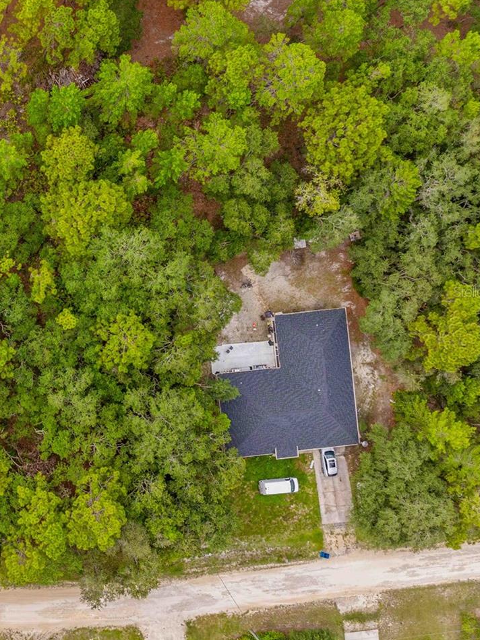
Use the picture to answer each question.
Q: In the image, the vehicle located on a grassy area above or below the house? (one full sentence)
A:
Looking at the photo, you'll find the vehicle located on a grassy area below the house.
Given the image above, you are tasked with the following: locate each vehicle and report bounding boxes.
[255,476,298,496]
[320,447,339,478]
